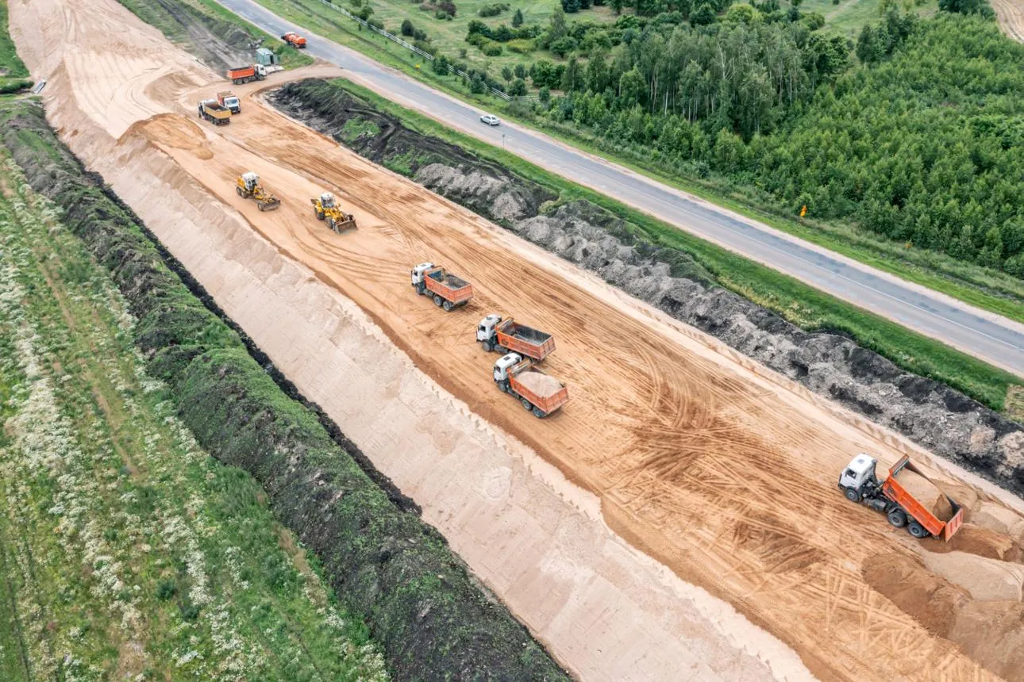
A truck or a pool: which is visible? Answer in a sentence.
The image shows a truck.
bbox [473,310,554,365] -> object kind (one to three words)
truck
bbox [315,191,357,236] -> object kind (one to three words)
work vehicle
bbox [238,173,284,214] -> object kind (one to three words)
work vehicle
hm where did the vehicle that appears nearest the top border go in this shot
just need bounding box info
[285,28,307,46]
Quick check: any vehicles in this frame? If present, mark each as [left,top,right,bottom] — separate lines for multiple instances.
[489,346,573,417]
[480,113,501,125]
[238,173,284,214]
[315,191,357,236]
[473,310,554,365]
[285,28,307,46]
[226,61,266,83]
[407,257,473,310]
[192,96,227,122]
[837,446,976,544]
[217,94,241,119]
